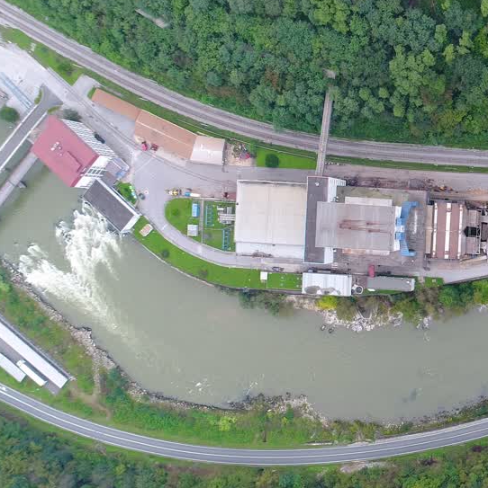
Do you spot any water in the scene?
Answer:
Yes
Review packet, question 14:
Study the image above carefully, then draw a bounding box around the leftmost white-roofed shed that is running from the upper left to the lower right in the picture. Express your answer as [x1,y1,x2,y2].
[0,355,29,382]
